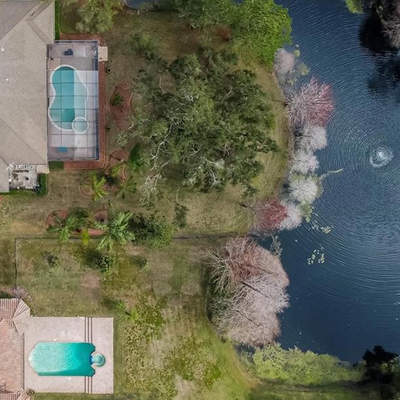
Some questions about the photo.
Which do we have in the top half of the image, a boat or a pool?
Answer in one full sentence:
There is a pool in the top half of the image.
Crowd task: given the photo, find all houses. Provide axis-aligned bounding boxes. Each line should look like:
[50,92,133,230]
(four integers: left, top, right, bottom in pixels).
[0,298,31,400]
[0,0,55,193]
